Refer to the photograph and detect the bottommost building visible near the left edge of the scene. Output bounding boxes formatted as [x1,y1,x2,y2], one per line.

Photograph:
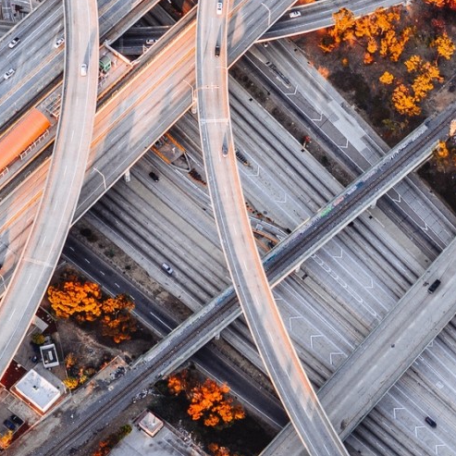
[14,369,61,417]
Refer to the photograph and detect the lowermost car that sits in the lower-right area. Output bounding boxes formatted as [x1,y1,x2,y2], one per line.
[425,415,439,429]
